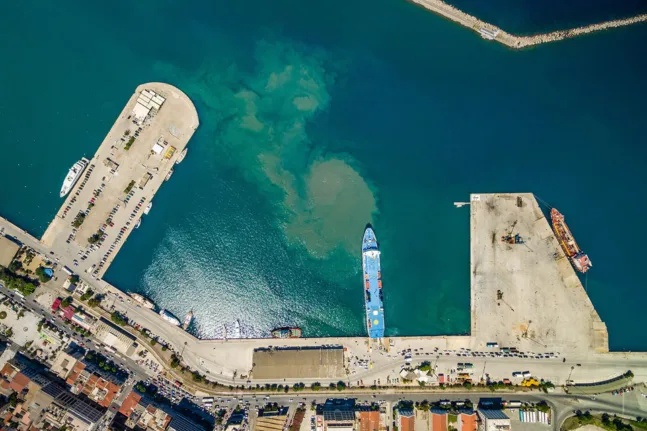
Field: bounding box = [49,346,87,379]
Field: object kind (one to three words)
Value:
building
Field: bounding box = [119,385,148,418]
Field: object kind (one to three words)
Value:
building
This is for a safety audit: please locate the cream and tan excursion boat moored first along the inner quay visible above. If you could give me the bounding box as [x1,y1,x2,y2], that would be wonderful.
[130,291,156,311]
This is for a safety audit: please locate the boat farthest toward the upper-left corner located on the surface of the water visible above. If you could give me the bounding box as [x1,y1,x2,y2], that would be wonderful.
[62,156,90,197]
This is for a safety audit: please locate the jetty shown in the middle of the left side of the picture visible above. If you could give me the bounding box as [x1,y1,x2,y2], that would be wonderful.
[40,82,200,279]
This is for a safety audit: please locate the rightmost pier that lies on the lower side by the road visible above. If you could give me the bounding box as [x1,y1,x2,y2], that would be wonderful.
[469,193,608,352]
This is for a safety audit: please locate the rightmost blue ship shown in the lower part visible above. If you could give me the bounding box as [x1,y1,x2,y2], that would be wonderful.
[361,222,391,341]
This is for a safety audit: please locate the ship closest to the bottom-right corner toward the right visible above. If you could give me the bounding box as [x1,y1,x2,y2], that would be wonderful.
[533,194,591,291]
